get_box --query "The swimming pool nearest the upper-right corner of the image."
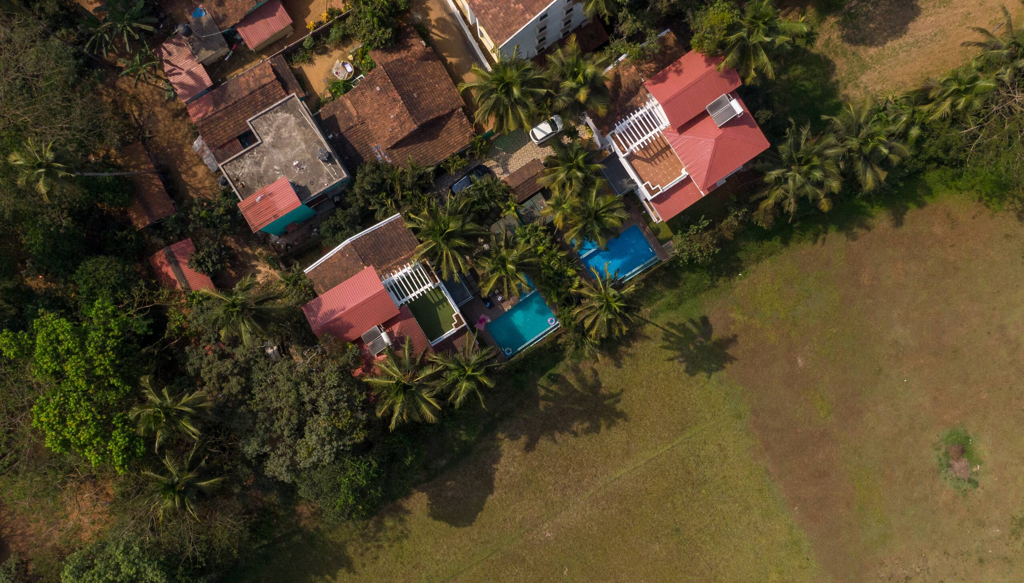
[572,223,661,294]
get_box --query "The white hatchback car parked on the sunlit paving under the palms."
[527,116,563,146]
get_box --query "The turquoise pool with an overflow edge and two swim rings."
[484,275,559,360]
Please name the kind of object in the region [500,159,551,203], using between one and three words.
shed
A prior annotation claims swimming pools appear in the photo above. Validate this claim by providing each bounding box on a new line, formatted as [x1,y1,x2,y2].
[484,275,559,360]
[572,223,661,294]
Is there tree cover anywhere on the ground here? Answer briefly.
Yes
